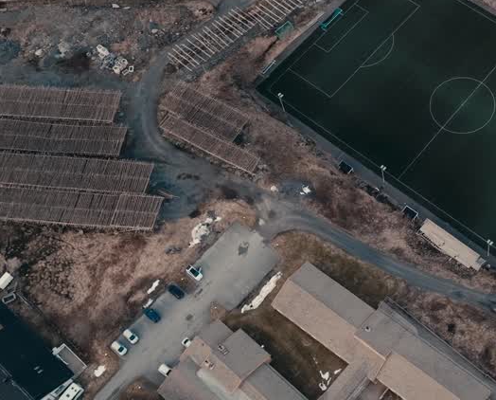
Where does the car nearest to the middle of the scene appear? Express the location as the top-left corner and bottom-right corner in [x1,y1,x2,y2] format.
[186,265,204,282]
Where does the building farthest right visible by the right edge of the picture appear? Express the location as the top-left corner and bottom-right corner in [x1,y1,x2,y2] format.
[378,324,496,400]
